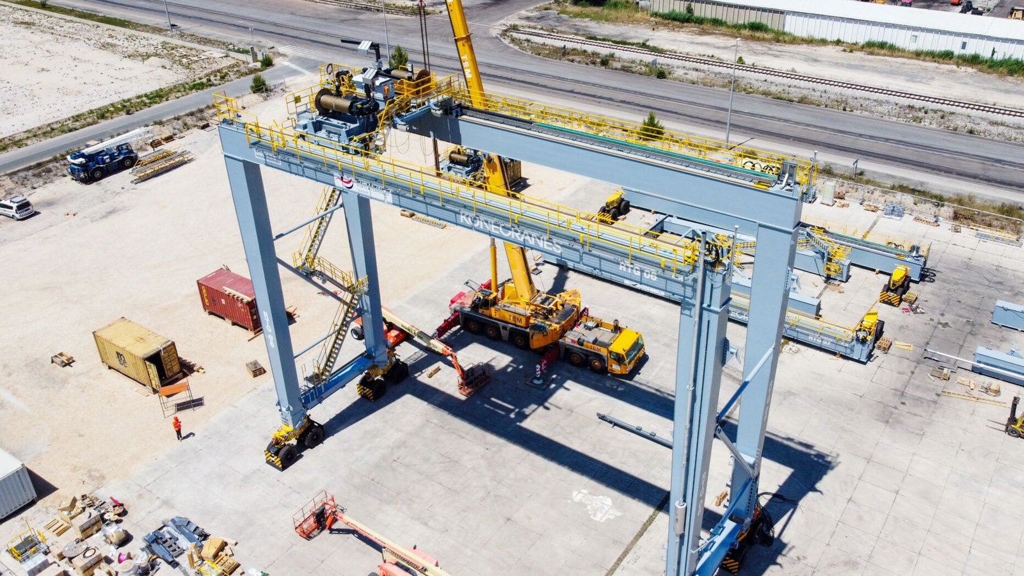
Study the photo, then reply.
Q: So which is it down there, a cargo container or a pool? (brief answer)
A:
cargo container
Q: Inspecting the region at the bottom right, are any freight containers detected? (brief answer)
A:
No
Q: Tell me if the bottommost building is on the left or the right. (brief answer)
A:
right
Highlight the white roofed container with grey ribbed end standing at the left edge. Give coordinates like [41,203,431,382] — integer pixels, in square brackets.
[0,447,36,518]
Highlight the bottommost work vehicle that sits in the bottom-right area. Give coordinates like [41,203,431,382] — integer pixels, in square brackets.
[972,393,1024,447]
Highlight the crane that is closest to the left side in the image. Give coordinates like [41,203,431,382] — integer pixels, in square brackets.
[61,120,162,183]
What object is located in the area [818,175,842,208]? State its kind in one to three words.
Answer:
building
